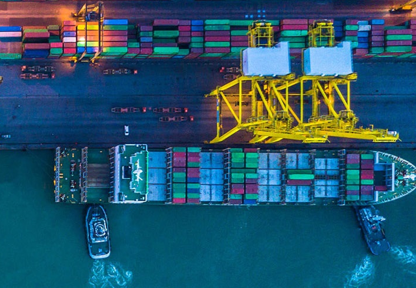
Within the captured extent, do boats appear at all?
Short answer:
Yes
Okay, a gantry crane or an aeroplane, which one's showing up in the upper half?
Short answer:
gantry crane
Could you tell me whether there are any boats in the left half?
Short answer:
Yes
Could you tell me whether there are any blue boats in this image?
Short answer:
Yes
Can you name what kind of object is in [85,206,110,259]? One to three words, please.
boat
